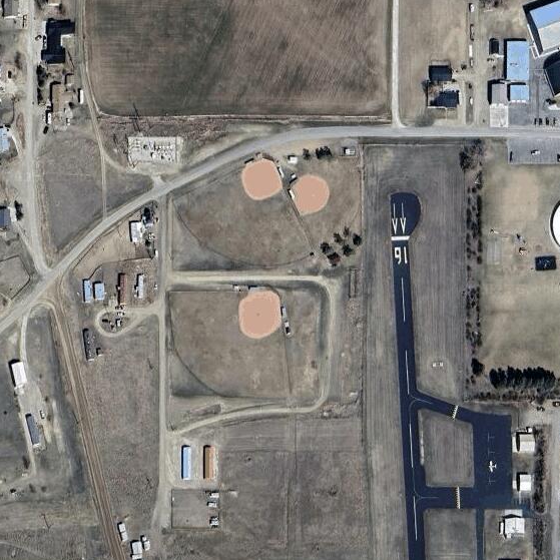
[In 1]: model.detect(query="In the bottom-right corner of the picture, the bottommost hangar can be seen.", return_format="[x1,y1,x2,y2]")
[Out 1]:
[504,517,524,535]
